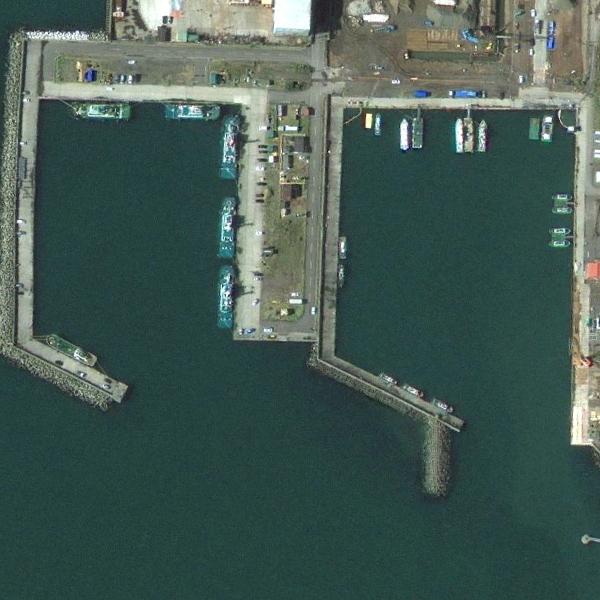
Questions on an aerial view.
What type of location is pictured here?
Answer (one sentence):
It's a port.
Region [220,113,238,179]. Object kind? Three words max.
boat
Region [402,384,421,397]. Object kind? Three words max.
boat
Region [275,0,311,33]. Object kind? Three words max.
building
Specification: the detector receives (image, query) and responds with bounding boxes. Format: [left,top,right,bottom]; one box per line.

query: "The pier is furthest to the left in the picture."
[0,29,128,411]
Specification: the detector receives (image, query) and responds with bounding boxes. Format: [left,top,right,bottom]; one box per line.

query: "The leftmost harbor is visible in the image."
[33,81,318,385]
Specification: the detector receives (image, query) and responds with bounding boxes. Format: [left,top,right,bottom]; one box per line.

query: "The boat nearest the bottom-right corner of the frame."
[432,399,452,412]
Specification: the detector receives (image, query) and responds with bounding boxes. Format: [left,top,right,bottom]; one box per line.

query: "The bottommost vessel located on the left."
[45,333,101,368]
